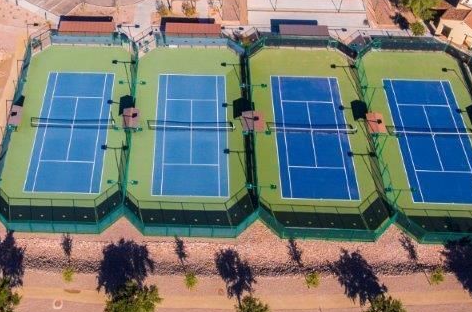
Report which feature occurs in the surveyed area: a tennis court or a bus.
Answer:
tennis court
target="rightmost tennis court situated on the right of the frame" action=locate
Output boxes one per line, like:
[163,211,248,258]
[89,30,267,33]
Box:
[355,50,472,247]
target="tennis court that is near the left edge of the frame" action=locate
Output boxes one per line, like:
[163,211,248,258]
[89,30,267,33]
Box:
[0,44,139,236]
